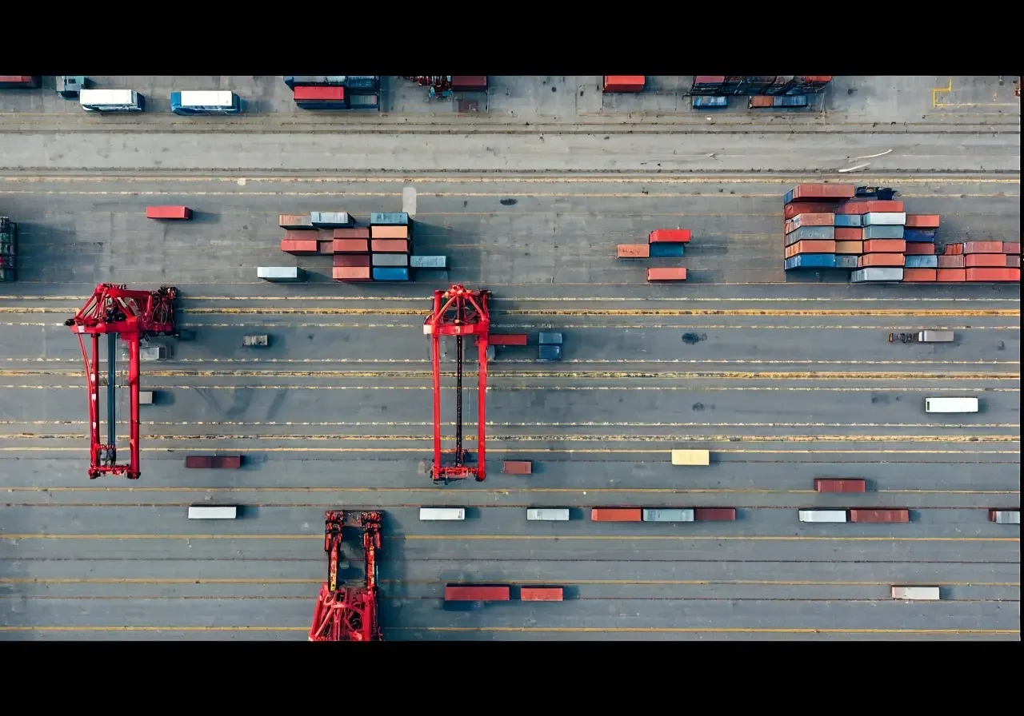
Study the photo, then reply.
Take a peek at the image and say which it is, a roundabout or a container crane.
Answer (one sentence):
I can see a container crane in this picture.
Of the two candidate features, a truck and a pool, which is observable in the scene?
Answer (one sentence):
I can see a truck in this picture.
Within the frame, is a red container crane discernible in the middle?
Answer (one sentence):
Yes, there is a red container crane in the middle.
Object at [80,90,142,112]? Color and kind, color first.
white bus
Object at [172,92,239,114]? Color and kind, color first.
white bus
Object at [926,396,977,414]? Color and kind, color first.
white vehicle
